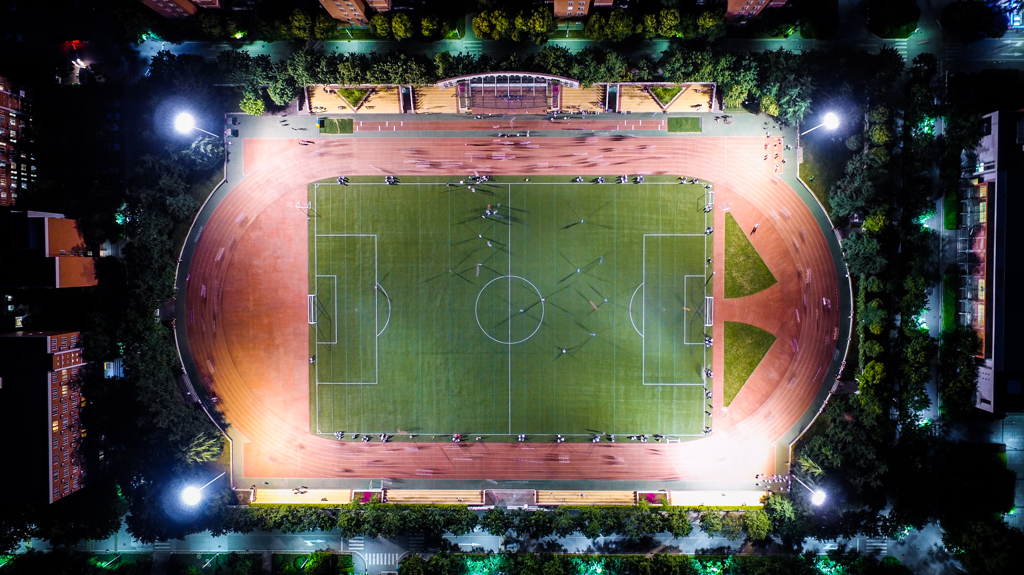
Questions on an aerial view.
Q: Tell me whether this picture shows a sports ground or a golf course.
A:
sports ground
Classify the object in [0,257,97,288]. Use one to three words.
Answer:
building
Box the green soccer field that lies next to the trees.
[308,174,715,443]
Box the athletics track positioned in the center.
[186,136,840,486]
